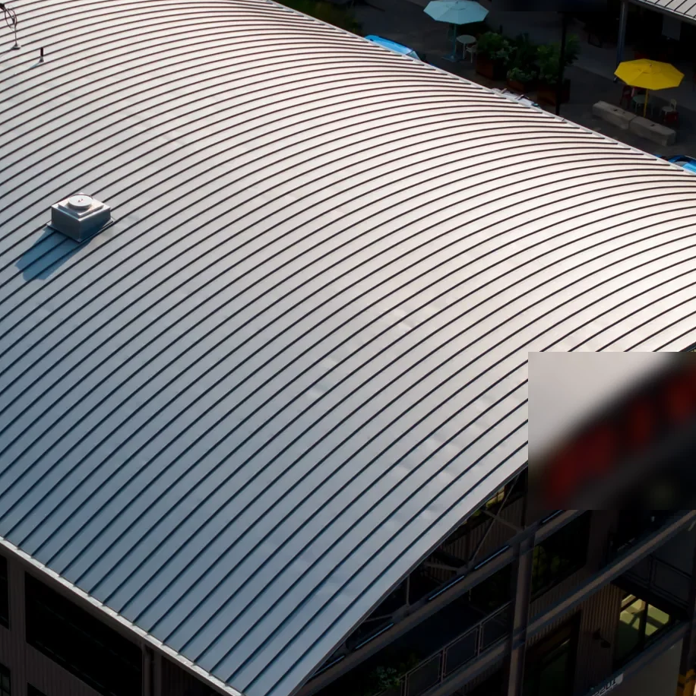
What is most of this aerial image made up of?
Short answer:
buildings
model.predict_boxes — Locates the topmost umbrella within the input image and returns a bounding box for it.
[425,0,488,62]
